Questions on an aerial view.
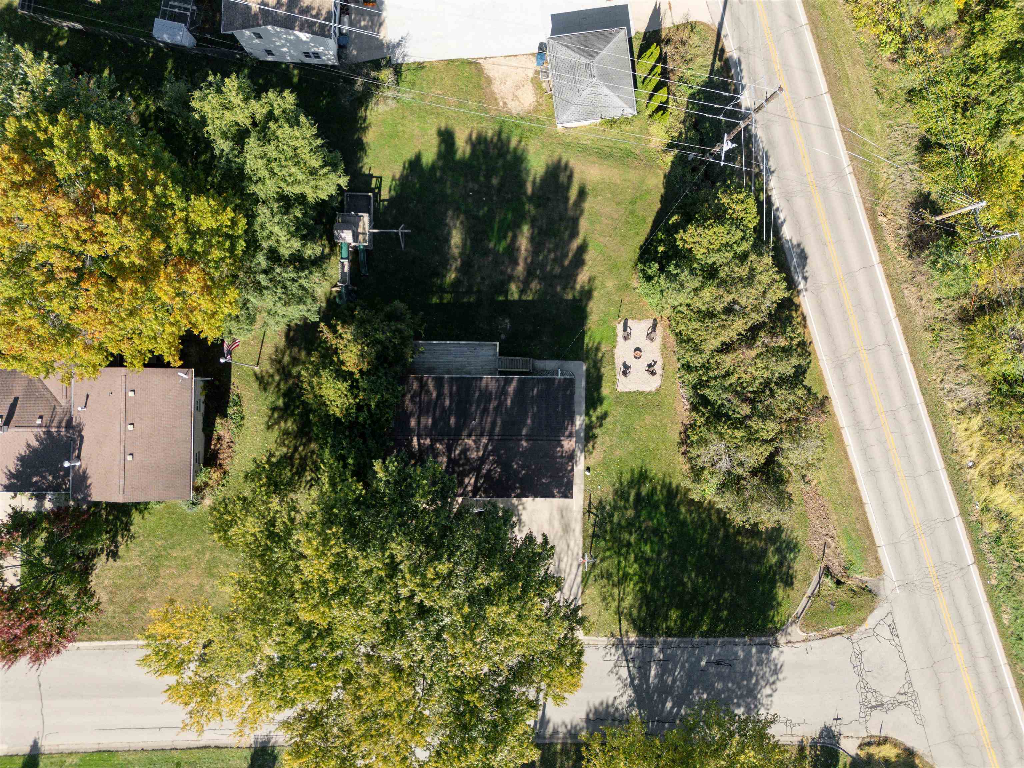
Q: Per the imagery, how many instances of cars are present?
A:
0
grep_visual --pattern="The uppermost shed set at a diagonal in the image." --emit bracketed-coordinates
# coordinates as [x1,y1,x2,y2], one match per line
[153,18,200,60]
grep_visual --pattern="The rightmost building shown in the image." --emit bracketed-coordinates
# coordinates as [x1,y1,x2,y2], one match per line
[546,26,638,131]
